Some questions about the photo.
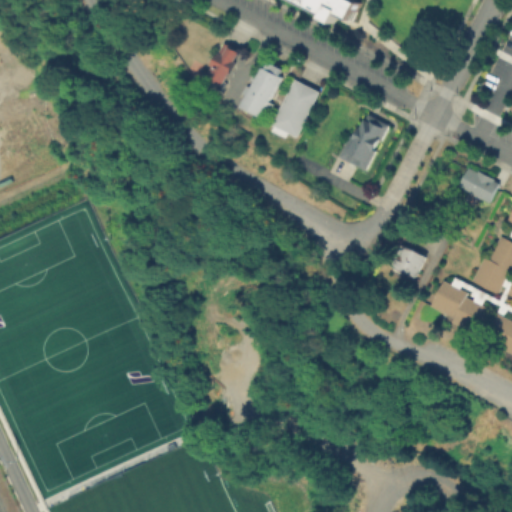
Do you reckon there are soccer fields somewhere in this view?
Yes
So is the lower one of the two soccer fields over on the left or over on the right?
left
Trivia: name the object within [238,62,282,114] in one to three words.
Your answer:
house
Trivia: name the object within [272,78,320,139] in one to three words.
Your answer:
house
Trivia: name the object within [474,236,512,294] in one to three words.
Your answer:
building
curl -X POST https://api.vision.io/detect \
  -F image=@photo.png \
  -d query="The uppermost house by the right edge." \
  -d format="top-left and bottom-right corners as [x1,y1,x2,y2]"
[460,167,502,203]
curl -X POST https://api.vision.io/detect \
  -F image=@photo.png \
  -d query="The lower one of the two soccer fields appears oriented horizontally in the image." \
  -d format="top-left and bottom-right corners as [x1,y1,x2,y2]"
[50,445,272,512]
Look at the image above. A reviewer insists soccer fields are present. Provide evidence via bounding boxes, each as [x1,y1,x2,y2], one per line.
[0,204,194,497]
[50,445,272,512]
